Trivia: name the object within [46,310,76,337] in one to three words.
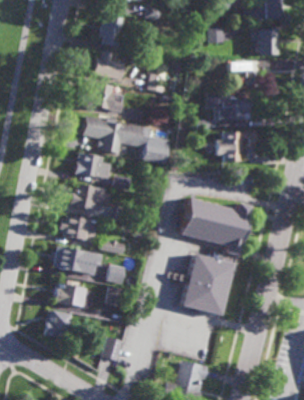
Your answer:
house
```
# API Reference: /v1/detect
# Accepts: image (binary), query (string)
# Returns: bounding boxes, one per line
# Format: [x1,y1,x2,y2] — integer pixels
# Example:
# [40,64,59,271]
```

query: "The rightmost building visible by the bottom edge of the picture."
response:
[176,360,210,396]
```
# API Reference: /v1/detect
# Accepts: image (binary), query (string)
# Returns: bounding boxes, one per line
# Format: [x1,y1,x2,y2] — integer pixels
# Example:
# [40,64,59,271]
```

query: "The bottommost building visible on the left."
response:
[102,338,125,364]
